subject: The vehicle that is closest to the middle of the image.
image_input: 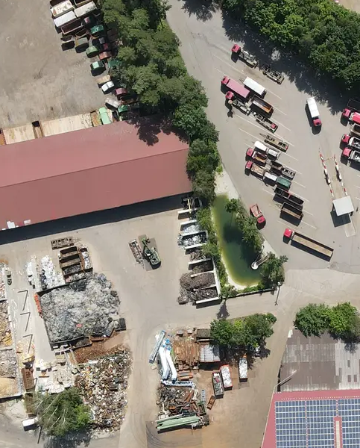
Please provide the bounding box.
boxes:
[143,237,161,264]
